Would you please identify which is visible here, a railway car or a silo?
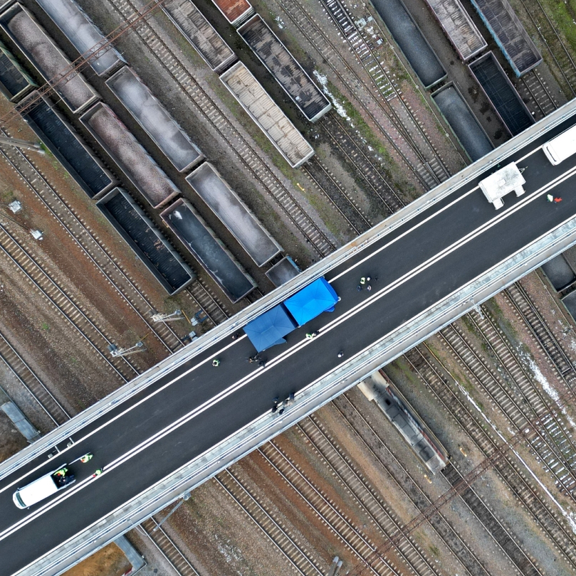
railway car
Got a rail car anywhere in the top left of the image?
Yes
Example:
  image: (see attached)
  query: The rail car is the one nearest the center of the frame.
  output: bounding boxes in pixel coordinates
[266,256,304,288]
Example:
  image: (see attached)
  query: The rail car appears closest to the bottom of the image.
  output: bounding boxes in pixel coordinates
[356,369,454,476]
